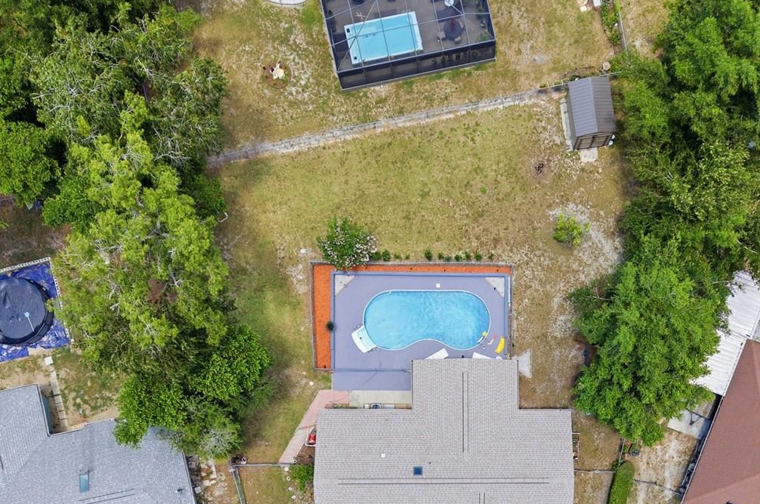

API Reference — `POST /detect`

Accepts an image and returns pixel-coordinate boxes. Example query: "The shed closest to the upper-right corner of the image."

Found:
[568,76,614,148]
